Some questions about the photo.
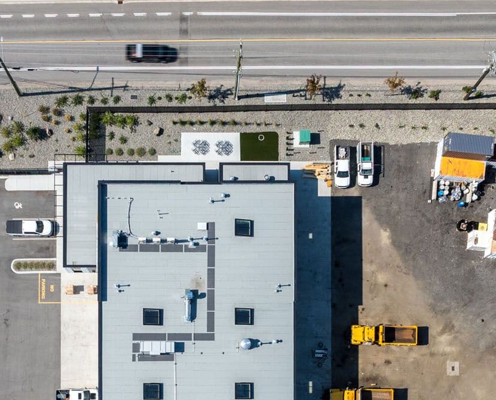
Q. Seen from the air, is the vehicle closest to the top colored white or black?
black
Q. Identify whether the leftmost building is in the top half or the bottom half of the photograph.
bottom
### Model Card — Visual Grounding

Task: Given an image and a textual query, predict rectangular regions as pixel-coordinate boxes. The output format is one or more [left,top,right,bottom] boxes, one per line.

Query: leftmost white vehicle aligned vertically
[335,142,354,189]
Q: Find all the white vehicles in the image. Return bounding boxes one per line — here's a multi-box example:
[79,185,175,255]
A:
[6,217,51,236]
[55,387,98,400]
[358,138,377,187]
[335,142,354,189]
